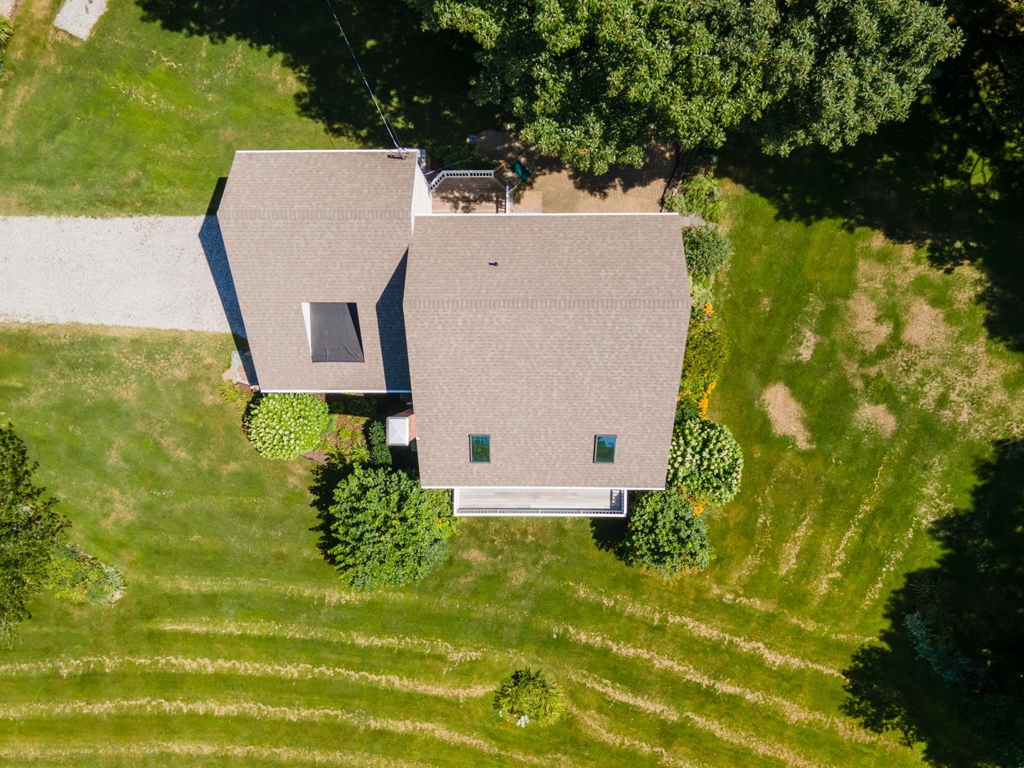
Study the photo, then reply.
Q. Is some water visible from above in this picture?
No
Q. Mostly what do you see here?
grass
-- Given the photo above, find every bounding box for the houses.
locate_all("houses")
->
[217,148,691,492]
